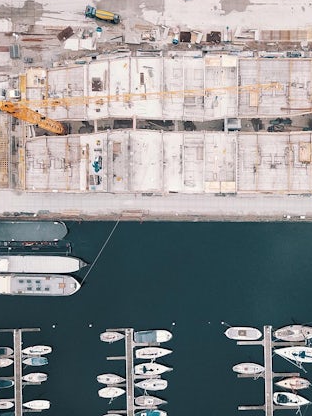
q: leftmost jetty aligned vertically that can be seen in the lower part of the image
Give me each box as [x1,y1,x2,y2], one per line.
[0,326,42,416]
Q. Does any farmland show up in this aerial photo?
No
